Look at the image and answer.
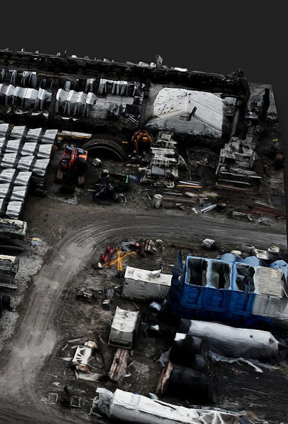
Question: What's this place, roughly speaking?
industrial area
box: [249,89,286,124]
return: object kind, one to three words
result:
shed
